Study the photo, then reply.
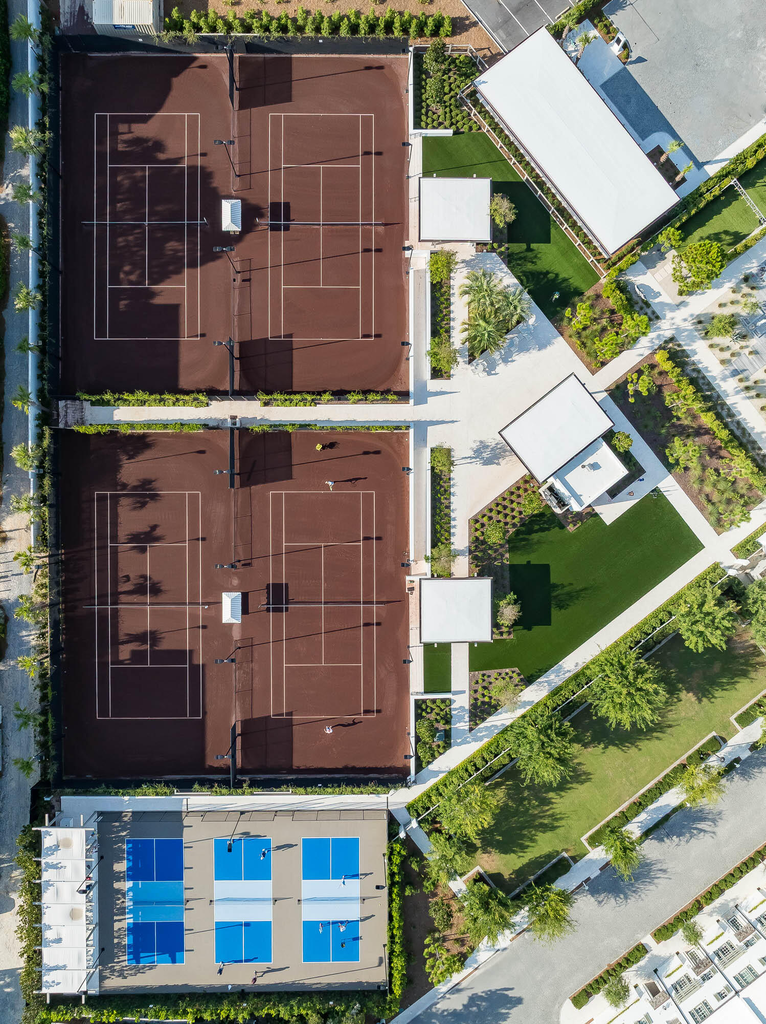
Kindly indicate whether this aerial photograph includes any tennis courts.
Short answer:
Yes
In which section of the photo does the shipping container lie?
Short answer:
top left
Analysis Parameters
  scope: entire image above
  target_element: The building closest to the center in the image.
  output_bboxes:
[420,573,493,646]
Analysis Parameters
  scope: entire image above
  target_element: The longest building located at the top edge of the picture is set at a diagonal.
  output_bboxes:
[473,27,681,261]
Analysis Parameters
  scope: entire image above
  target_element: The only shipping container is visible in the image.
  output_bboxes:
[92,0,160,35]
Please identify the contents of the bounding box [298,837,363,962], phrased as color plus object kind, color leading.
blue sports court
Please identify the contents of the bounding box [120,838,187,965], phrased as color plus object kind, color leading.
blue sports court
